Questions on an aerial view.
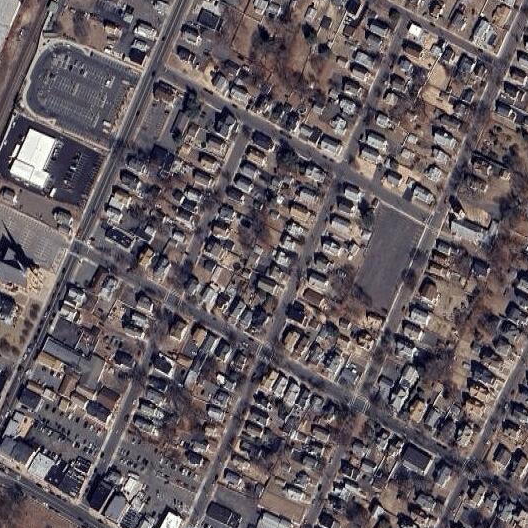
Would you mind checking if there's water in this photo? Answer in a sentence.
No, the picture contains no water.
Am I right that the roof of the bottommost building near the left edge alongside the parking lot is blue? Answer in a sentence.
No, the roof of the bottommost building near the left edge alongside the parking lot is actually white.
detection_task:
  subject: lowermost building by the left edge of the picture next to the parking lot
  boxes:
[11,128,58,187]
